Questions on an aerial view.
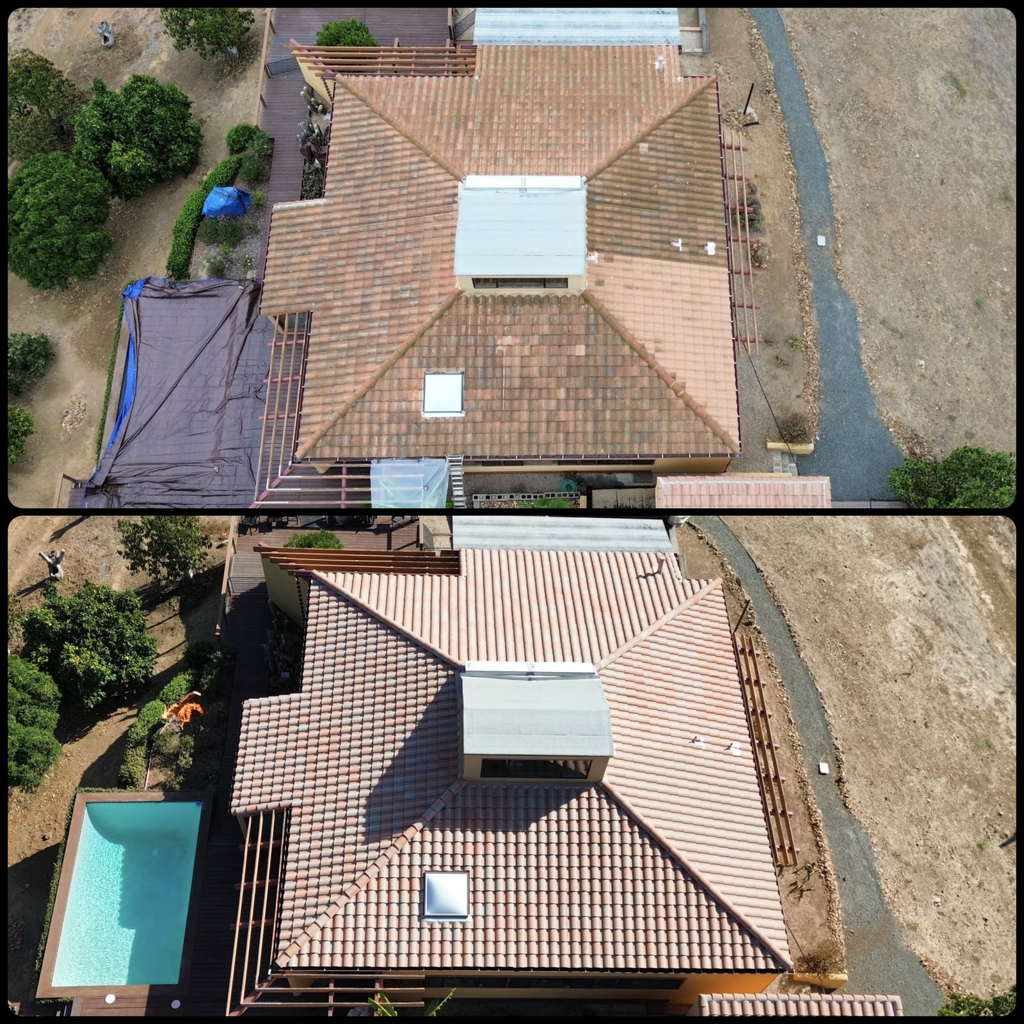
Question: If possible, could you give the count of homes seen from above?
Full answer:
The number of homes here is 2.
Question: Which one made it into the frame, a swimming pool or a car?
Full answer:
This aerial view contains a swimming pool.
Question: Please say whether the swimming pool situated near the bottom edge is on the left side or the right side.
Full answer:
You can find the swimming pool situated near the bottom edge on the left side of the picture.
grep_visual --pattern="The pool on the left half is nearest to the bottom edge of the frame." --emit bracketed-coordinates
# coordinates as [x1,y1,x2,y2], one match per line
[36,792,213,999]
